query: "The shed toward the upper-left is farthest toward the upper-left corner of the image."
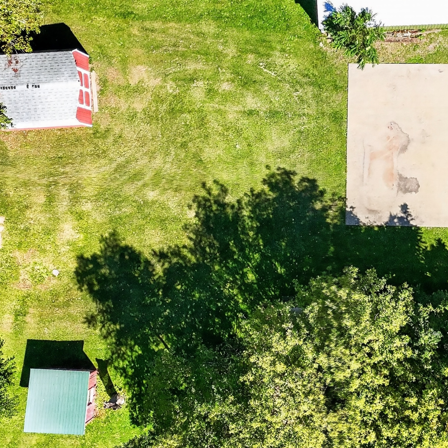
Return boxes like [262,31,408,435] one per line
[0,46,92,132]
